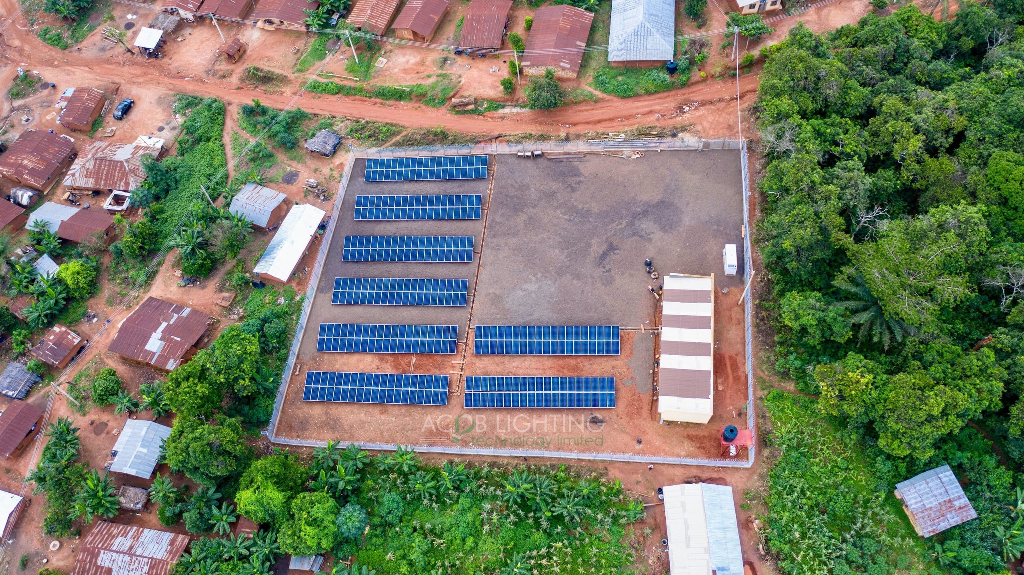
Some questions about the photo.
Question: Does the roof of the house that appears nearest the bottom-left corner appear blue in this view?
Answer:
No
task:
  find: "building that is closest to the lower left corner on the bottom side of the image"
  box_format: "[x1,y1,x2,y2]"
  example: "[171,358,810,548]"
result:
[0,489,31,541]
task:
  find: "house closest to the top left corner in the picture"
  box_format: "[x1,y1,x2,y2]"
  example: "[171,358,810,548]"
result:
[54,87,105,134]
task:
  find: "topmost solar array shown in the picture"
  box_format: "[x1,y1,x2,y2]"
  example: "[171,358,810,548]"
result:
[364,158,488,182]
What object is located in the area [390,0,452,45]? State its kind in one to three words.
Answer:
house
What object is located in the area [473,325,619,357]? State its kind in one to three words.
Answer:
solar array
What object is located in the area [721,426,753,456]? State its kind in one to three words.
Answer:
water tower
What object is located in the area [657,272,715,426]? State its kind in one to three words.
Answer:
building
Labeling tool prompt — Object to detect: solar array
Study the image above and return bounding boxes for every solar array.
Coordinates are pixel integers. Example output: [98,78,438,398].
[473,325,619,357]
[364,158,488,182]
[342,236,474,262]
[303,371,449,405]
[317,323,457,354]
[332,278,468,306]
[354,195,482,220]
[464,376,615,413]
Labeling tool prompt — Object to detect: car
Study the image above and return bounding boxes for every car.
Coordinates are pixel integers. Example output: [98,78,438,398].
[327,7,347,26]
[112,98,132,119]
